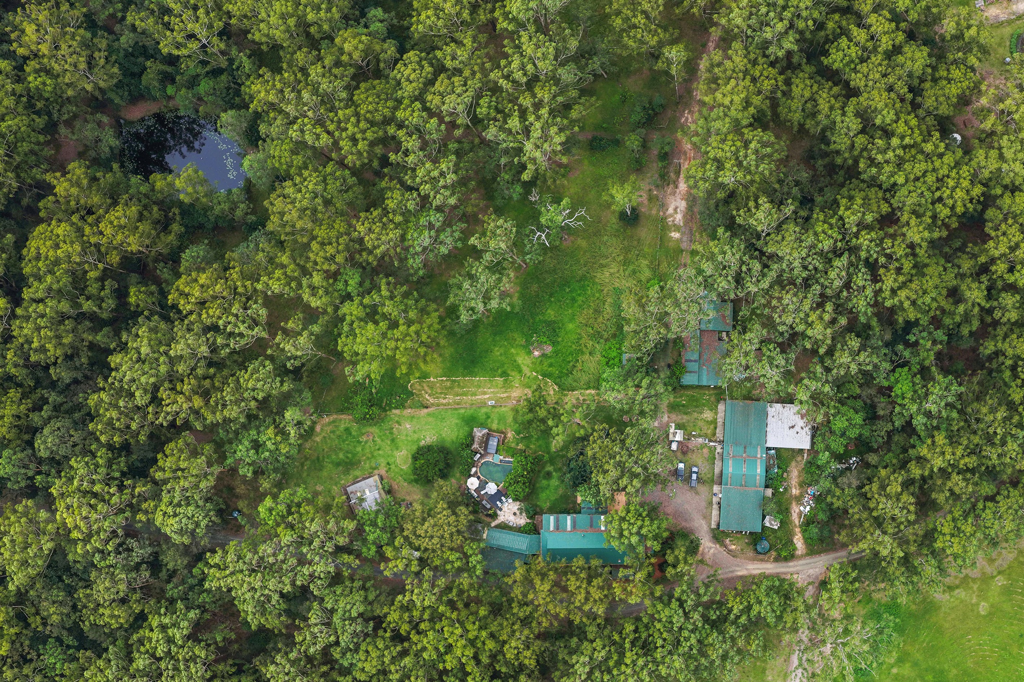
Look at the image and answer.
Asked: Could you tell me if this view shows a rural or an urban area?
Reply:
rural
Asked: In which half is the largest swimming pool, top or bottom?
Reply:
bottom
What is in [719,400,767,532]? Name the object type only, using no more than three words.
shed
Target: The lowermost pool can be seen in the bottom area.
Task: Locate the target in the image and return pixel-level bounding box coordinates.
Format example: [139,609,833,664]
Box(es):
[477,459,517,486]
